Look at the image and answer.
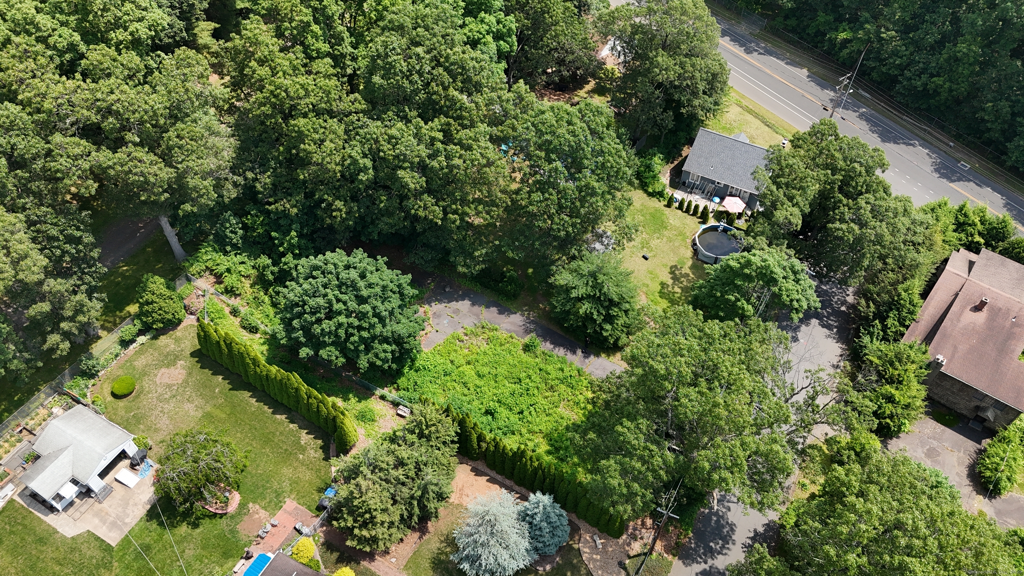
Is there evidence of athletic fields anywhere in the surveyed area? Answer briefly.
No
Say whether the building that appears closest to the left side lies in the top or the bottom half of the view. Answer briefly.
bottom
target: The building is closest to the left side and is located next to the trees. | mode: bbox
[18,405,139,524]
